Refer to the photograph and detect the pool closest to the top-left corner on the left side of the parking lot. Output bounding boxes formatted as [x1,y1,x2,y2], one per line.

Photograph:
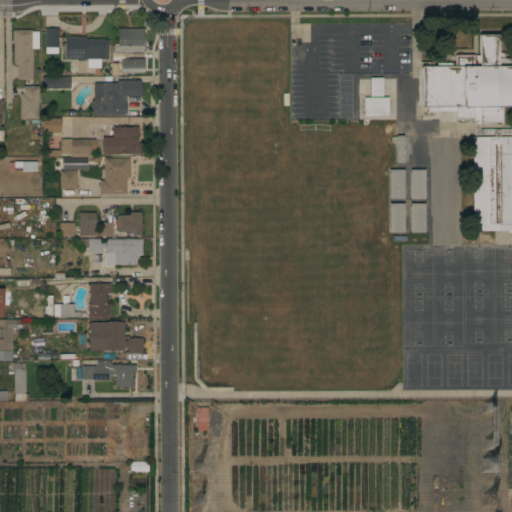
[76,86,92,106]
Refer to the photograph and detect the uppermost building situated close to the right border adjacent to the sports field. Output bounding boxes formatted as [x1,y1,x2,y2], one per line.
[424,63,512,124]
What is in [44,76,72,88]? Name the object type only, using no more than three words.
building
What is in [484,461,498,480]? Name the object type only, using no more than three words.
pylon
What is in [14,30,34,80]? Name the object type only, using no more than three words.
house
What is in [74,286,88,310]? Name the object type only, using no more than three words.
swimming pool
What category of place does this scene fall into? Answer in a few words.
sports ground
